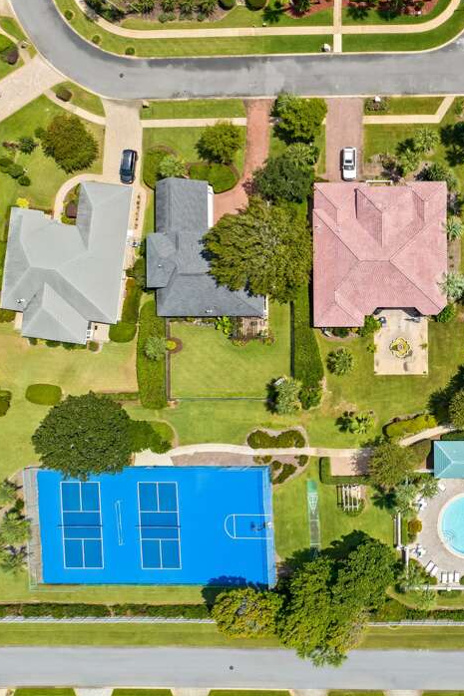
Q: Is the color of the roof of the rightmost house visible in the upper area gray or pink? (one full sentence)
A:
The roof of the rightmost house visible in the upper area is pink.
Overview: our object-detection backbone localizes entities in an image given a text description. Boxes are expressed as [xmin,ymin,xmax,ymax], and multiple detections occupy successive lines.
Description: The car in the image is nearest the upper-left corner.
[117,149,136,182]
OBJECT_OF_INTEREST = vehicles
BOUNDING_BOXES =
[341,146,356,179]
[117,149,136,182]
